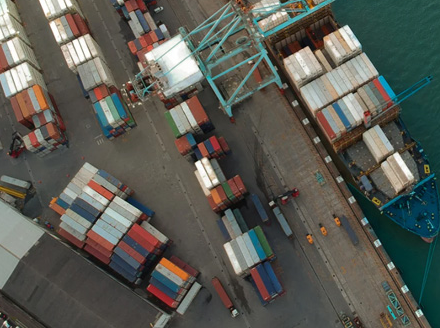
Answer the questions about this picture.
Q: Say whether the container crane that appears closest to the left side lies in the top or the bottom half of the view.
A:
top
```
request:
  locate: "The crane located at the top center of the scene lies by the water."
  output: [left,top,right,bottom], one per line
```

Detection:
[110,0,336,123]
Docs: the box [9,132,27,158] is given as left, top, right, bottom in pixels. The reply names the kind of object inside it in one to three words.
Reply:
work vehicle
